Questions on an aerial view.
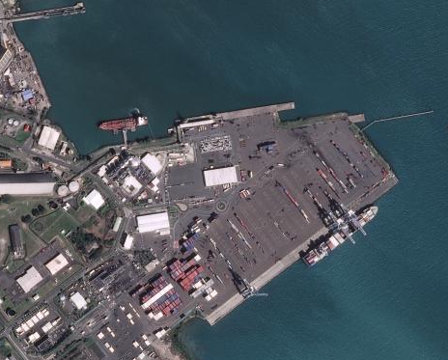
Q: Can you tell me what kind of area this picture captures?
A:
port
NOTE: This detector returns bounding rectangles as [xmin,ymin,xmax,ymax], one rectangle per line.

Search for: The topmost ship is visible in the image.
[98,114,148,130]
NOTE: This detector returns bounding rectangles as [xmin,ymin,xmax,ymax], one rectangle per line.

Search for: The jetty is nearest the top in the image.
[10,2,87,22]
